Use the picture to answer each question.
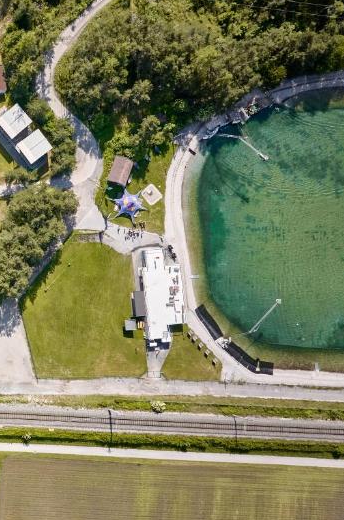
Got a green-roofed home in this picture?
No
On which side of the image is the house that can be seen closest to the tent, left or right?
left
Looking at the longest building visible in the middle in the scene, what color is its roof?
white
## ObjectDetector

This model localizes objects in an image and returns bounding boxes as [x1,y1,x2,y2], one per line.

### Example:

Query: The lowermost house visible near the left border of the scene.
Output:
[13,129,53,166]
